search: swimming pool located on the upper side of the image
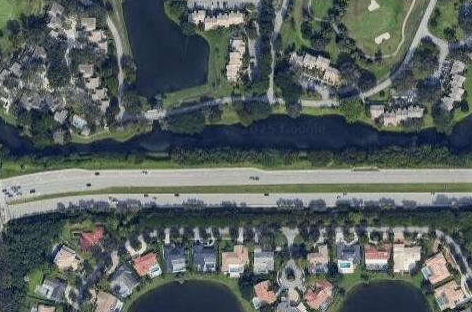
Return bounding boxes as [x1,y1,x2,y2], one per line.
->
[70,113,88,129]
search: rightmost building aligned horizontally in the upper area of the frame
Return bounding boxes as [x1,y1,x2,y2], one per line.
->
[370,103,423,127]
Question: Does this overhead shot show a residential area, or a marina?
residential area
